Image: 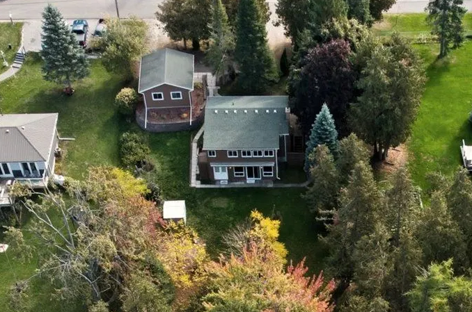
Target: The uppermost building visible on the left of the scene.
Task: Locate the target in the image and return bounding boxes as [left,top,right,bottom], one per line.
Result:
[138,43,197,114]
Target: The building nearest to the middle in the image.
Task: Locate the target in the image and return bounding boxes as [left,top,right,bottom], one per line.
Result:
[202,83,297,187]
